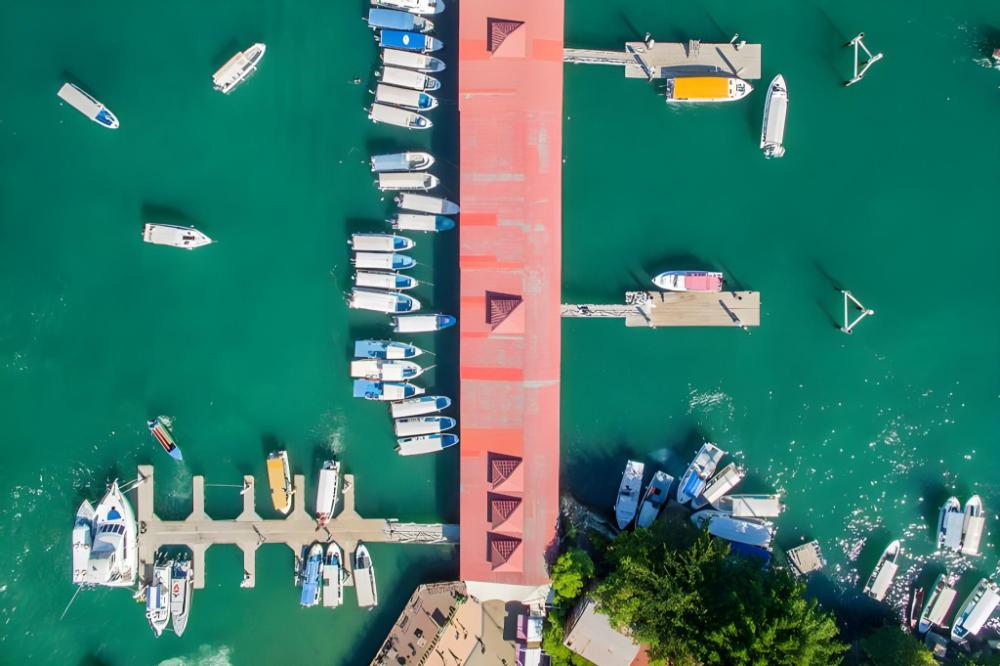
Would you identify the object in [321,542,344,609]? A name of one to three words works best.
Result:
boat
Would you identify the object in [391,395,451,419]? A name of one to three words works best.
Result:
boat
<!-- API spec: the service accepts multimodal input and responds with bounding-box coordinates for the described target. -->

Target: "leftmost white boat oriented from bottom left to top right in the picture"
[213,43,267,94]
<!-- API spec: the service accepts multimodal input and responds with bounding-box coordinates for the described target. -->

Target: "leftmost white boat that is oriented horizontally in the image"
[139,224,215,248]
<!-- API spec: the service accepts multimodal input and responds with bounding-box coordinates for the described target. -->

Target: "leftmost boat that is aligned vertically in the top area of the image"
[761,73,790,157]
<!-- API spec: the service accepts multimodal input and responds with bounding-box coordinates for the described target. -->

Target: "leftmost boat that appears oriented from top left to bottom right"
[53,80,121,129]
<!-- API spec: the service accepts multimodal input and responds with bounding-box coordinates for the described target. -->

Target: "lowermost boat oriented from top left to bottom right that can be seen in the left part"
[148,418,184,460]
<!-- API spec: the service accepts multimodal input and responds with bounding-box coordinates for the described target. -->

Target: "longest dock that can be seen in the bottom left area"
[138,465,387,599]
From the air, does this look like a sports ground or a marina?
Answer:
marina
